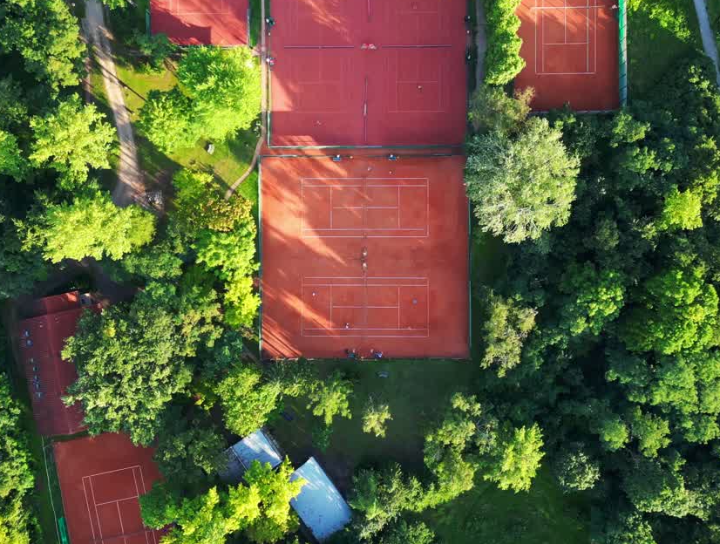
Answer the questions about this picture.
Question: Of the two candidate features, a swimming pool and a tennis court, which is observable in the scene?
tennis court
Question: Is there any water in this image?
No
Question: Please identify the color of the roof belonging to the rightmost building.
blue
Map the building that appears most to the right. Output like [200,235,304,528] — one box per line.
[292,456,354,539]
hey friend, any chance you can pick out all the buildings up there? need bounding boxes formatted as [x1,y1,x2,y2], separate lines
[23,286,111,433]
[292,456,354,539]
[231,428,283,474]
